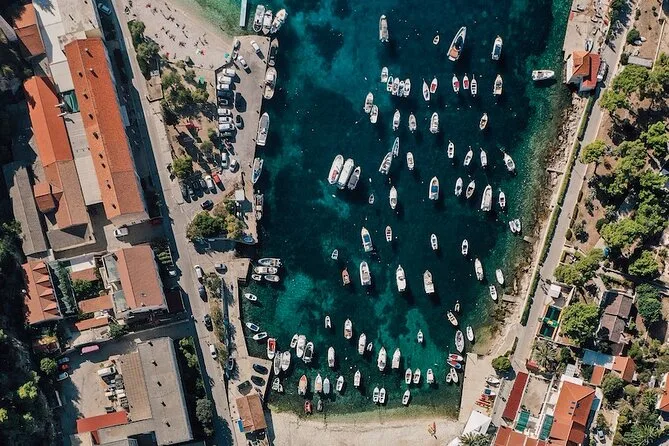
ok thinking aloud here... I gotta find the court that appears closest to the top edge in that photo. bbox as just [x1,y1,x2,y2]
[540,304,568,343]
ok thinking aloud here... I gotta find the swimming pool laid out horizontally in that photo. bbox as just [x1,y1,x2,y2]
[581,349,610,366]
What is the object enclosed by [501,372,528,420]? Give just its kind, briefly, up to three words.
shed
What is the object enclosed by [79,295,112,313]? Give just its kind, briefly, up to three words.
house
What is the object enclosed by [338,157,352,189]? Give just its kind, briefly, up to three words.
boat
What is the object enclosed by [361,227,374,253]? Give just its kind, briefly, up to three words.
boat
